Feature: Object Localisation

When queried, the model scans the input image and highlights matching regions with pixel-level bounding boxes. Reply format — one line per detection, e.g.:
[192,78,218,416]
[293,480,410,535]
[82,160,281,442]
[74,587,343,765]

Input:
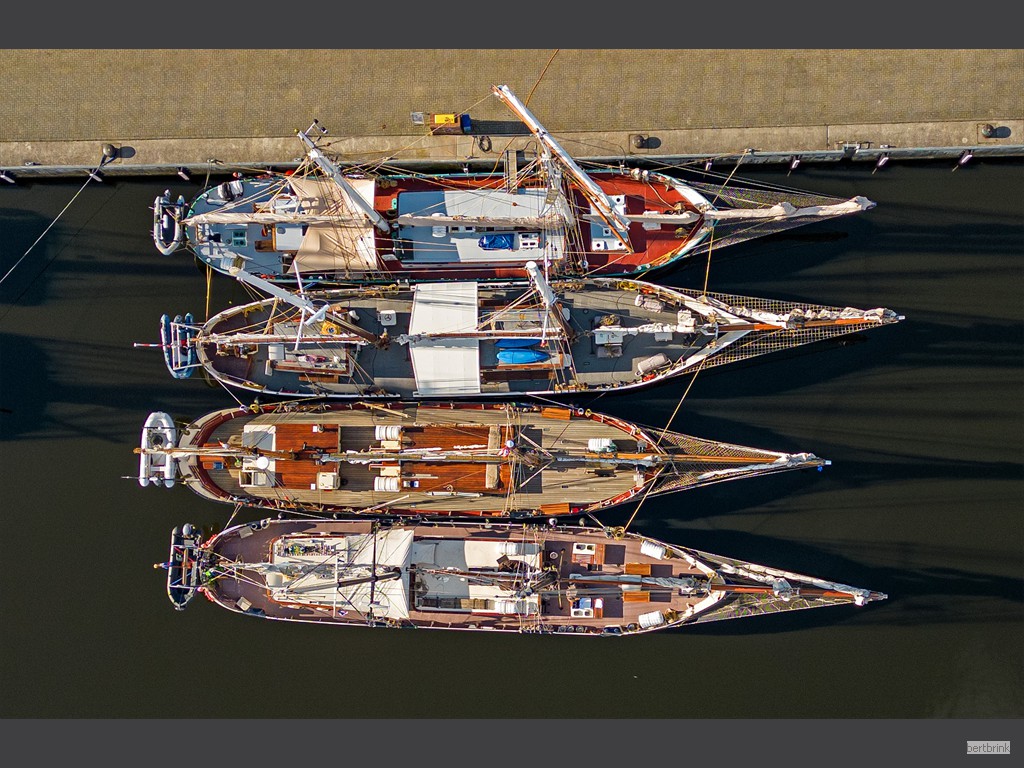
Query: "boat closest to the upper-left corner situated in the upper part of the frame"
[146,189,184,252]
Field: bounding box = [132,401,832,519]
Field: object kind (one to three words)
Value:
ship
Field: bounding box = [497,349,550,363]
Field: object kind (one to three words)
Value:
boat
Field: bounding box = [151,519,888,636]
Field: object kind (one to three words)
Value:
ship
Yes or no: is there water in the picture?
Yes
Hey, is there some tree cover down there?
No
